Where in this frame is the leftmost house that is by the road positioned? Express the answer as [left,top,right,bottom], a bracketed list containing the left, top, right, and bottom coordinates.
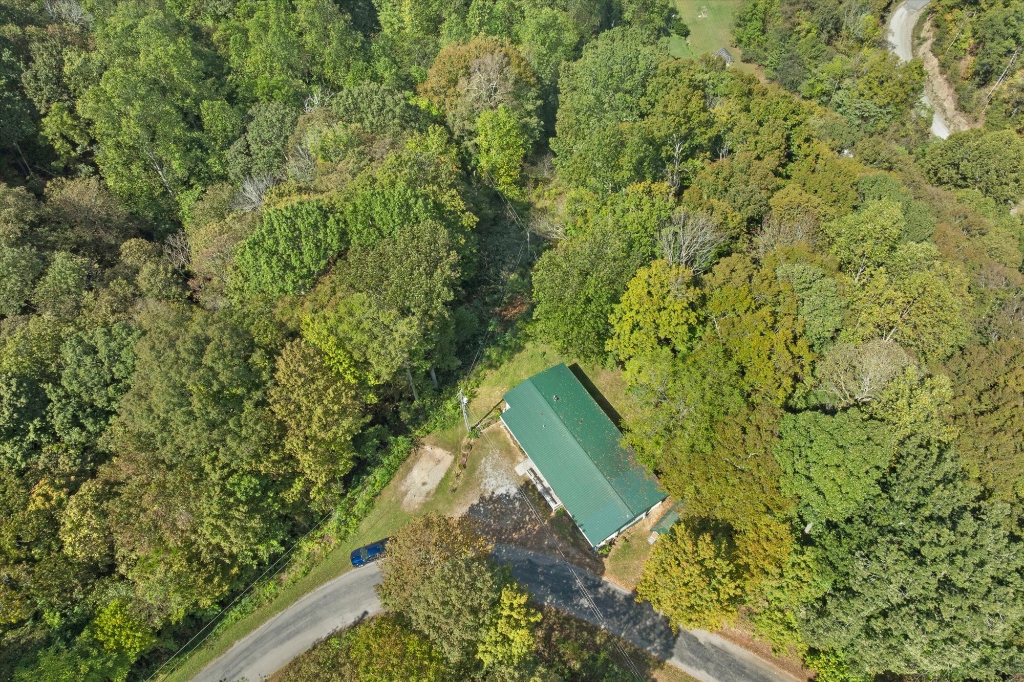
[499,363,670,557]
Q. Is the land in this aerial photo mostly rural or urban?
rural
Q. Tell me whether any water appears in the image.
No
